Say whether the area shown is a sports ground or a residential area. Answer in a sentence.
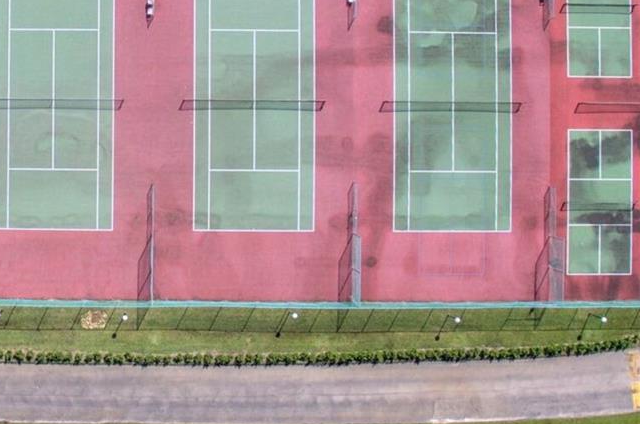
The picture captures a sports ground.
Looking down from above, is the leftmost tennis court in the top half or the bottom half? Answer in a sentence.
The top half of the photo is where the leftmost tennis court is.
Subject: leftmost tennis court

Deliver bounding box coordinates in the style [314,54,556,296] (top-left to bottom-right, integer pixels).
[0,0,114,230]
